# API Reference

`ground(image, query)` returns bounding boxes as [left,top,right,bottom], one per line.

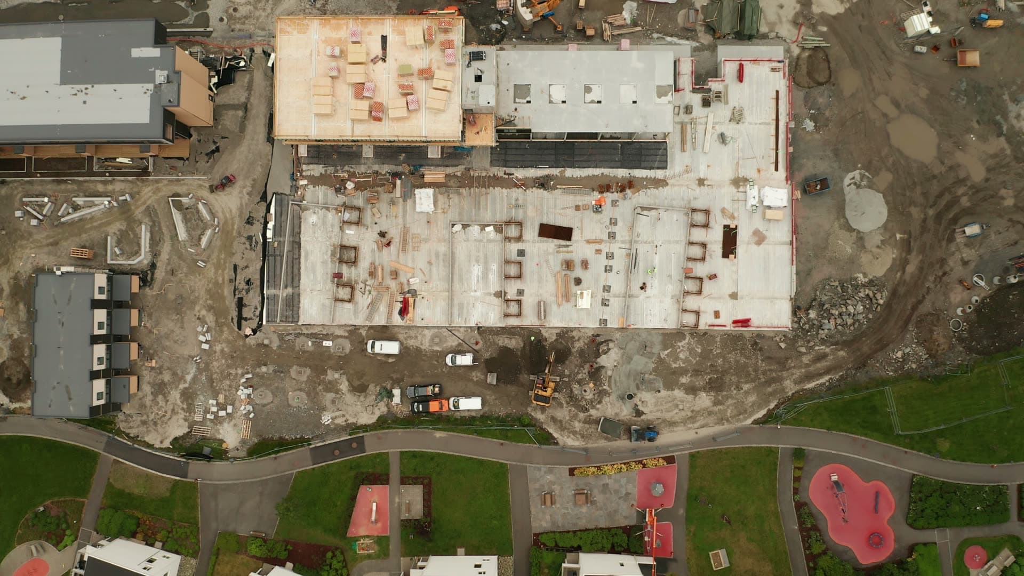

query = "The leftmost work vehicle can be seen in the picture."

[205,174,233,195]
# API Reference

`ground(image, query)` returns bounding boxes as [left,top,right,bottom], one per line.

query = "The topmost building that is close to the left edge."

[0,17,213,145]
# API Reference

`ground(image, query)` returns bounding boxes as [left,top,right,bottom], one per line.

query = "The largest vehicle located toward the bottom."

[529,350,560,409]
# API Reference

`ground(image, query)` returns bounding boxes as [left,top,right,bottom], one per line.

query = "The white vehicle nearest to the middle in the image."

[447,353,476,366]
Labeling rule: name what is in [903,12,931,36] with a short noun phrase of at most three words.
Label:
shed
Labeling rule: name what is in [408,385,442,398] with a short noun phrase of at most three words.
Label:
vehicle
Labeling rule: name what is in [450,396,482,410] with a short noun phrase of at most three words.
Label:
vehicle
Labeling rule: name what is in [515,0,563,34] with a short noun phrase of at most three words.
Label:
crane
